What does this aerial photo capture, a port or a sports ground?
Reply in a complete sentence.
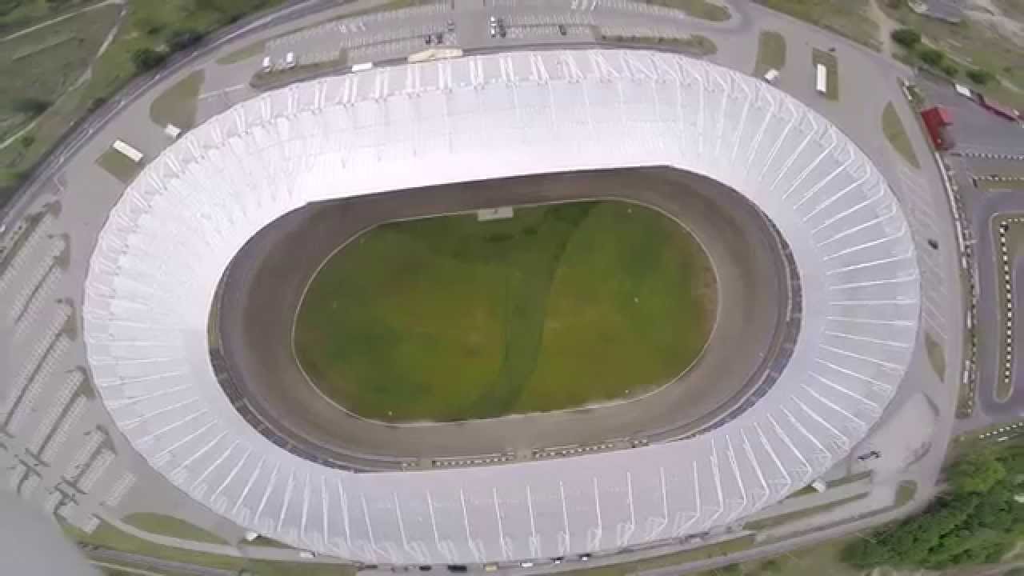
What you see here is a sports ground.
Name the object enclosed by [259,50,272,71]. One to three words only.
vehicle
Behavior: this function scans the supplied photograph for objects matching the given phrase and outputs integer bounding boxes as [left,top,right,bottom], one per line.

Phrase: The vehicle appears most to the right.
[928,238,942,250]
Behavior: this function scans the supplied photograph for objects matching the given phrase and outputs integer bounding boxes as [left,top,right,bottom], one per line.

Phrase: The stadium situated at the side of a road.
[79,46,925,568]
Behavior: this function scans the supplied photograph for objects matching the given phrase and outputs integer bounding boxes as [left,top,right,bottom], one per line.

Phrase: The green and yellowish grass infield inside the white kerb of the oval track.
[293,199,719,424]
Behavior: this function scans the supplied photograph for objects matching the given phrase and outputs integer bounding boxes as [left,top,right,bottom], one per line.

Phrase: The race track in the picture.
[912,69,1024,418]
